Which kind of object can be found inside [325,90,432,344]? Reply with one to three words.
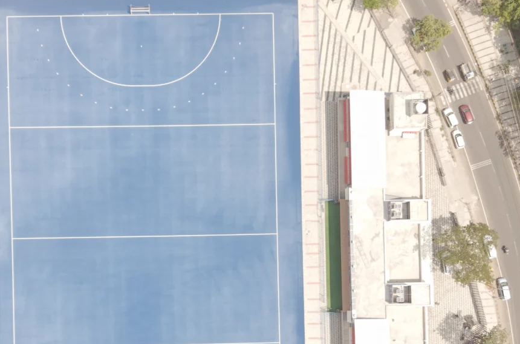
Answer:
building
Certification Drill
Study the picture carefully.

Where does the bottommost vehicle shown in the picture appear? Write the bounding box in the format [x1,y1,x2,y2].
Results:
[498,277,513,301]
